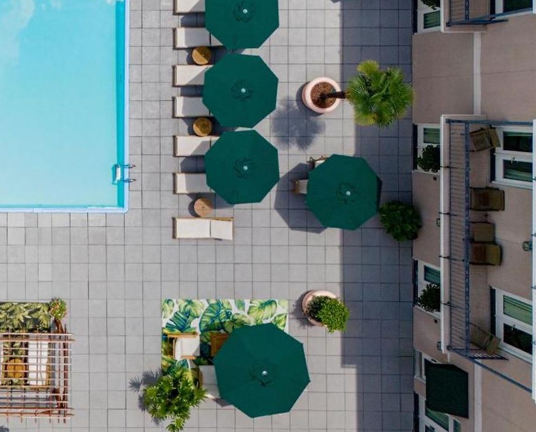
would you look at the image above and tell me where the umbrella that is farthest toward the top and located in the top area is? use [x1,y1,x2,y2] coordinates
[205,0,278,51]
